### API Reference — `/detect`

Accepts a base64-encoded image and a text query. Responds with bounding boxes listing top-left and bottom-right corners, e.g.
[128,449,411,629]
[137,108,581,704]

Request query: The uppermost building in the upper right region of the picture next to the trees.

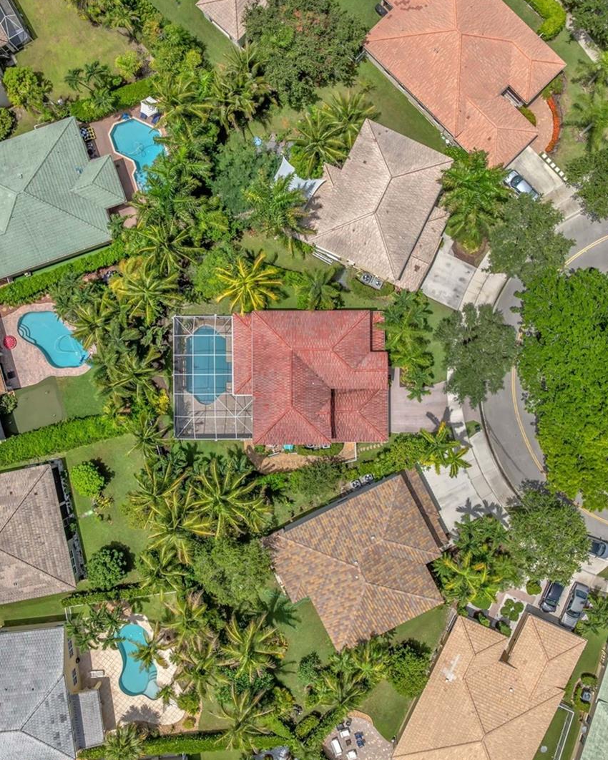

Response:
[365,0,567,169]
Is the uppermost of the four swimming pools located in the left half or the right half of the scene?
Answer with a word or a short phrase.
left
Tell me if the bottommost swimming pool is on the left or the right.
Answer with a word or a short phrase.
left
